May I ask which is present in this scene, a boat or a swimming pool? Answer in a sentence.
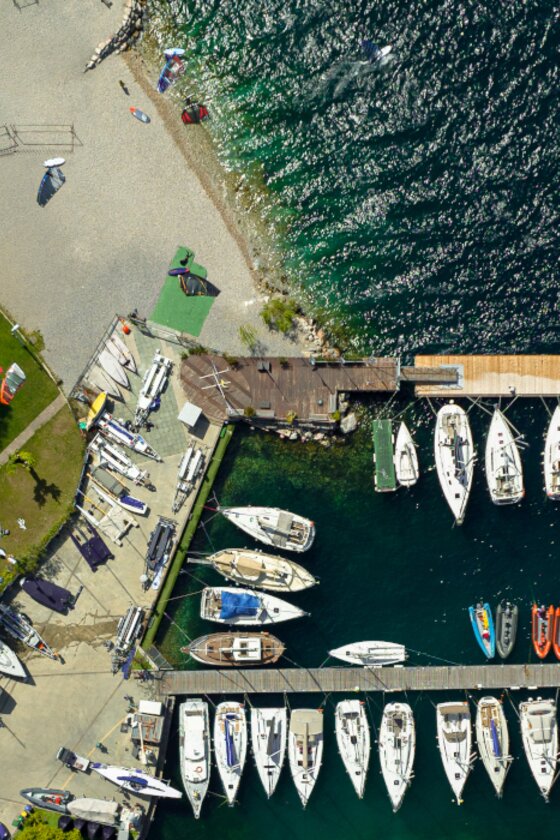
Of the two, only a boat appears.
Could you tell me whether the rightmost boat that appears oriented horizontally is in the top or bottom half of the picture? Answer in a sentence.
The bottom half of the photo is where the rightmost boat that appears oriented horizontally is.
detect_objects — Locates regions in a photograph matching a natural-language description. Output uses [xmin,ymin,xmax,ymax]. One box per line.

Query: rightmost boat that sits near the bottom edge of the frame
[506,688,560,806]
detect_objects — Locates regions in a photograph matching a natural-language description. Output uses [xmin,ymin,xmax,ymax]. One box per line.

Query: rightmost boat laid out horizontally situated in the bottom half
[319,641,424,669]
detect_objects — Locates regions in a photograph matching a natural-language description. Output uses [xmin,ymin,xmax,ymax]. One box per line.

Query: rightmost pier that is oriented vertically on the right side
[373,421,397,491]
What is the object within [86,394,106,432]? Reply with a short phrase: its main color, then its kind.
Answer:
yellow boat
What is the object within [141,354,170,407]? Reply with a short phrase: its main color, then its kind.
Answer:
white boat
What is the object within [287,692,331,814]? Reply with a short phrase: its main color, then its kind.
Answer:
white boat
